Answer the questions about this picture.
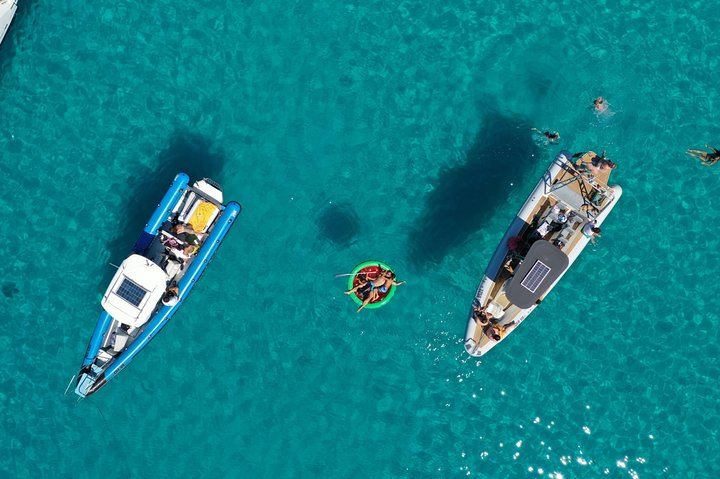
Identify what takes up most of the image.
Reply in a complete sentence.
What you mostly see from above here is water.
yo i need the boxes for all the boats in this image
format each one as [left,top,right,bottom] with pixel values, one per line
[65,174,241,402]
[461,152,617,357]
[0,0,22,43]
